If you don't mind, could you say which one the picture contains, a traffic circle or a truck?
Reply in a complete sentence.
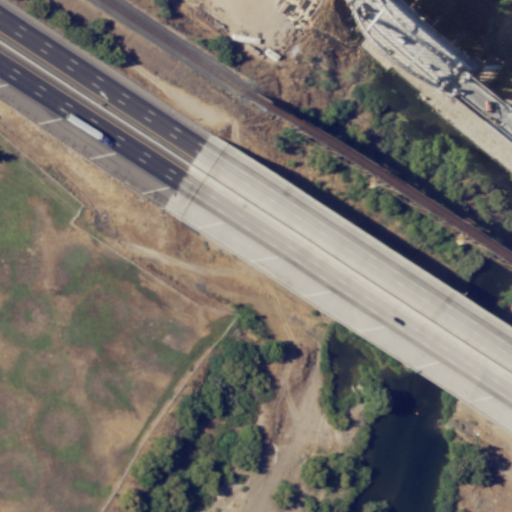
Of the two, only a truck appears.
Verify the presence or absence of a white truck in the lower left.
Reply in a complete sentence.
No, no white truck appears in the lower left.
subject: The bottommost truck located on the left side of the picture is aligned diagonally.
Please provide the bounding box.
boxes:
[66,114,110,146]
